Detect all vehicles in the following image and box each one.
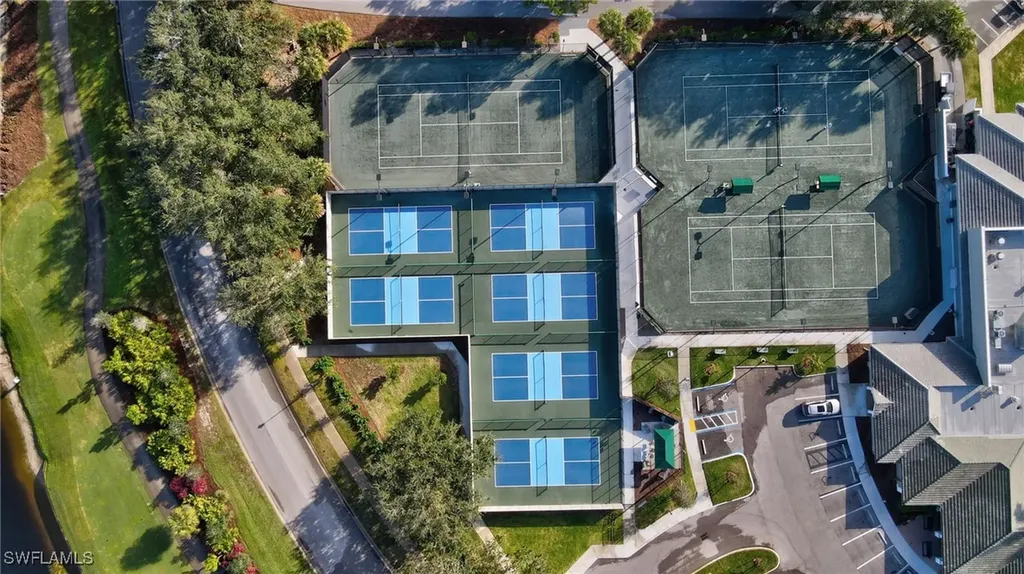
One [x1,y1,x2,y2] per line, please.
[803,400,841,418]
[1008,0,1024,17]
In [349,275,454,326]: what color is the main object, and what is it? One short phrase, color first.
blue sports court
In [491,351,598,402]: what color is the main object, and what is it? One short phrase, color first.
blue sports court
